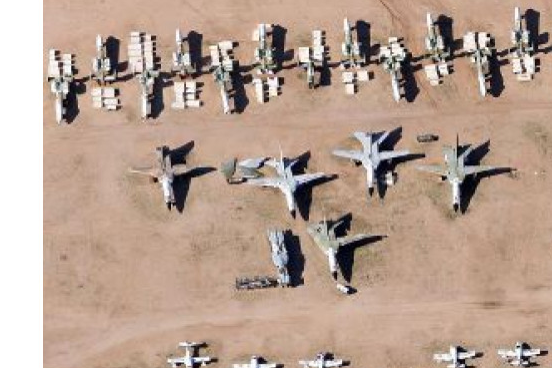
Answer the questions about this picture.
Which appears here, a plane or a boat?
plane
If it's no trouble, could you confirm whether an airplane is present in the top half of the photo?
Yes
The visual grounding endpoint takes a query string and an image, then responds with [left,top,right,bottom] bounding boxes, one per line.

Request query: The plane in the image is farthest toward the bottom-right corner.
[497,342,540,368]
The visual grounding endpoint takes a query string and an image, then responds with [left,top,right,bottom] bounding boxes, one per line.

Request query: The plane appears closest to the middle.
[248,145,324,220]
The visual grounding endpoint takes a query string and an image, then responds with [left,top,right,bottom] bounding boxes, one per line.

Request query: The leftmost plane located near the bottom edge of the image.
[168,341,210,368]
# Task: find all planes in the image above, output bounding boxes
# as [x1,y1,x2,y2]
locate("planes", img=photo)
[132,64,156,120]
[299,353,342,368]
[433,346,476,368]
[411,145,497,213]
[170,28,194,77]
[332,120,408,197]
[298,55,321,93]
[381,47,404,104]
[267,229,289,286]
[497,342,540,368]
[46,68,70,124]
[129,138,205,212]
[168,341,210,368]
[255,23,278,72]
[248,145,324,220]
[512,7,536,56]
[339,17,363,65]
[210,57,233,115]
[90,33,114,82]
[233,356,276,368]
[423,13,447,62]
[464,42,488,98]
[302,209,372,281]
